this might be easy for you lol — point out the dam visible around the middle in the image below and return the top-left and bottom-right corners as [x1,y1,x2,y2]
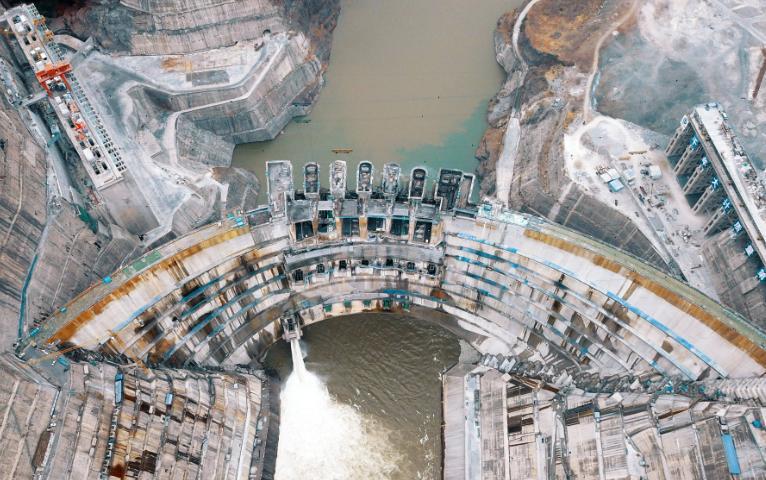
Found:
[22,160,766,386]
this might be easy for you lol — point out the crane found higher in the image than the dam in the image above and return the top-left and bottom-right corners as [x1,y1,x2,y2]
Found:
[26,58,75,101]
